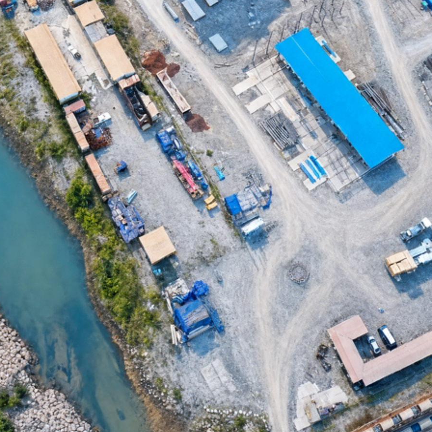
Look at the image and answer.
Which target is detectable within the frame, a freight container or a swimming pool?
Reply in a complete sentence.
It is a freight container that can be seen here.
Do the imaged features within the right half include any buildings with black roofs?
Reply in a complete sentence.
No, within the right half there is no building with a black roof.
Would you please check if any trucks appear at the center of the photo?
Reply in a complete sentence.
Yes, a truck shows up at the center of the photo.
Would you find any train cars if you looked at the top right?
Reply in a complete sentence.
No, looking at the top right, there is no train car.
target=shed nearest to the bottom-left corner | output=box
[140,226,176,265]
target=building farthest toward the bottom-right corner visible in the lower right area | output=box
[328,315,432,388]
